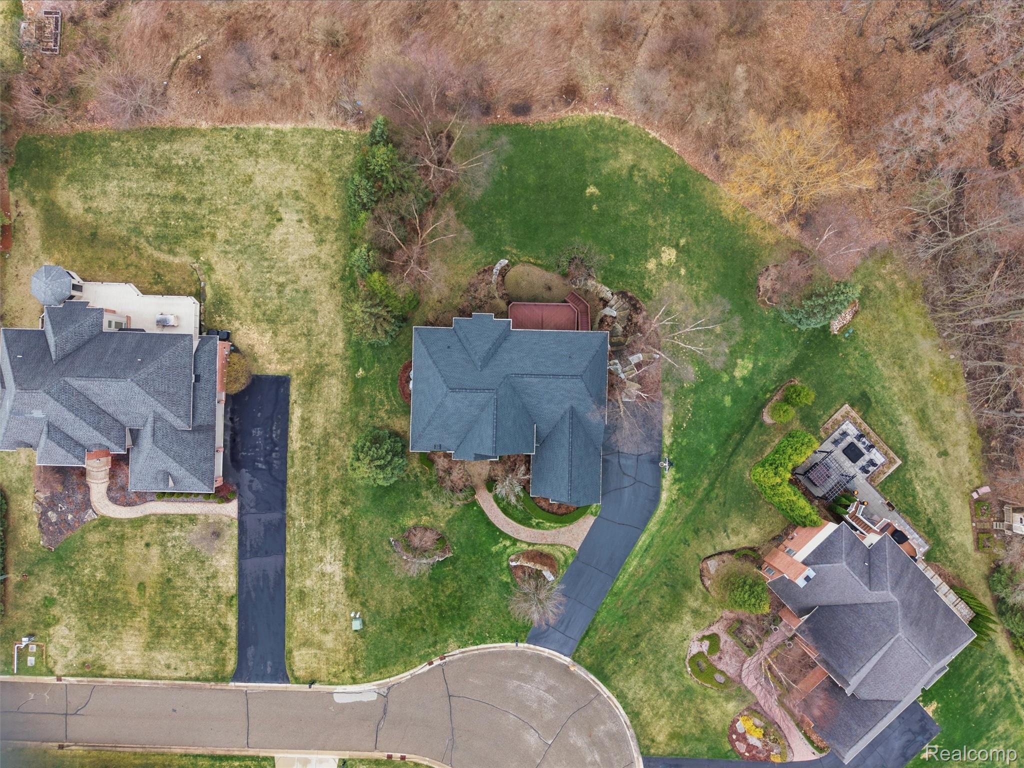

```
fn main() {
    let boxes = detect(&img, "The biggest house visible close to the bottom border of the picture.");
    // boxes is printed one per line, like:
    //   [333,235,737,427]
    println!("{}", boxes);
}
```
[756,513,978,762]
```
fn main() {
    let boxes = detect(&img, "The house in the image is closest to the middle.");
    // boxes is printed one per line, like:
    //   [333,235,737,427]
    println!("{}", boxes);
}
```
[409,313,610,510]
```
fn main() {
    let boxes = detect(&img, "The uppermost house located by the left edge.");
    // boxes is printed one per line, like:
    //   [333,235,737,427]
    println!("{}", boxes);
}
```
[0,300,236,493]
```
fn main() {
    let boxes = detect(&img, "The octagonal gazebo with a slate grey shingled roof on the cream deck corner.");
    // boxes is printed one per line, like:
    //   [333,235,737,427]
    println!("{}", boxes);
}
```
[32,266,82,305]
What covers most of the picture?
grass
